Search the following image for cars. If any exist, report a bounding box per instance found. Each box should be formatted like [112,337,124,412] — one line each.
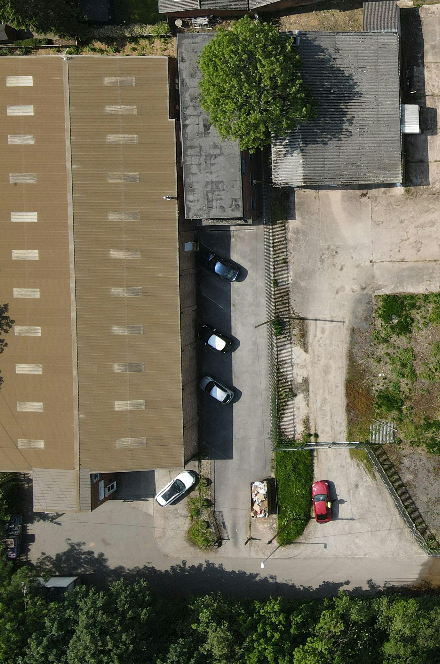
[198,372,239,408]
[152,468,198,510]
[202,249,245,287]
[197,323,235,357]
[309,480,334,523]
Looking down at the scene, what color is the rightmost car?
red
